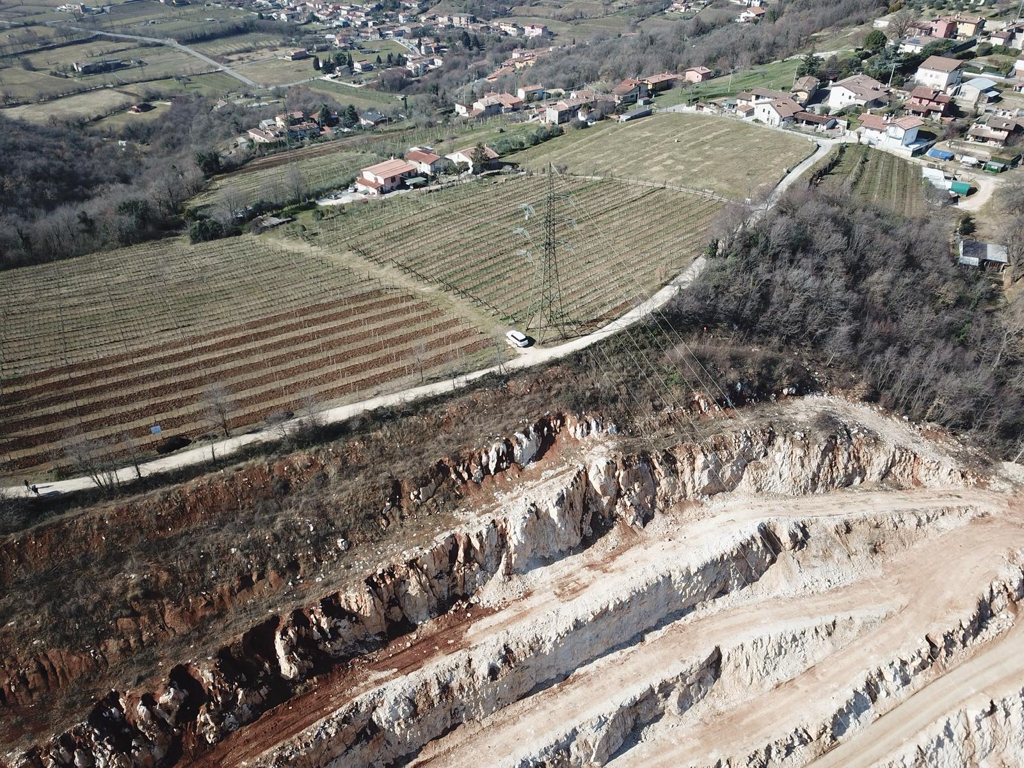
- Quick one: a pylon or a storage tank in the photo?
pylon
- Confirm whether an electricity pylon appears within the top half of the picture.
Yes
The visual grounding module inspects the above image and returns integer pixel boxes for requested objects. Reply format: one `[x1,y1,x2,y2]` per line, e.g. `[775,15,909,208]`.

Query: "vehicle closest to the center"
[506,330,530,345]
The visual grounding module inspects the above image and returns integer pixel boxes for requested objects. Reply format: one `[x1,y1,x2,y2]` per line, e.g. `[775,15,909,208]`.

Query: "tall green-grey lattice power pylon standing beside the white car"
[517,163,581,346]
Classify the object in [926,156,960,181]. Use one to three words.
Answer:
greenhouse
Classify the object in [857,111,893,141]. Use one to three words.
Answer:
house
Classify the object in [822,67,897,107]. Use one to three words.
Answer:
house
